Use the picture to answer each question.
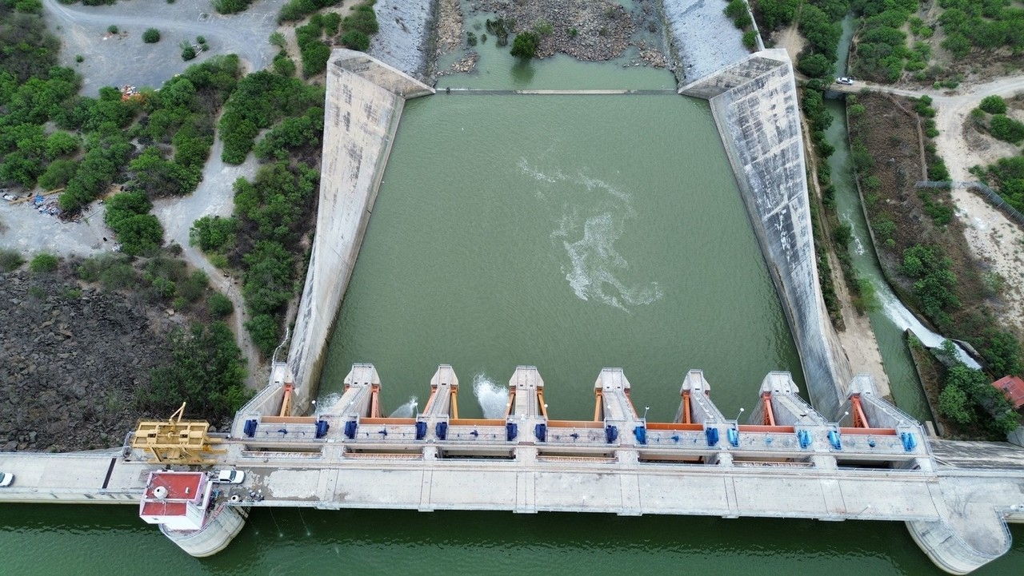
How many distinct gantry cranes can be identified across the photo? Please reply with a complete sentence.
In total, 1 gantry crane can be seen.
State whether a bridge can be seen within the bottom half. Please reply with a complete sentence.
No, there is no bridge within the bottom half.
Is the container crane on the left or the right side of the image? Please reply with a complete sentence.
The container crane is on the left side of the image.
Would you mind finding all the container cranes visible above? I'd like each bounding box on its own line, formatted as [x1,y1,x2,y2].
[128,397,241,462]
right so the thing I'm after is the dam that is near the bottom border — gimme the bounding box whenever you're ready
[0,361,1024,574]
